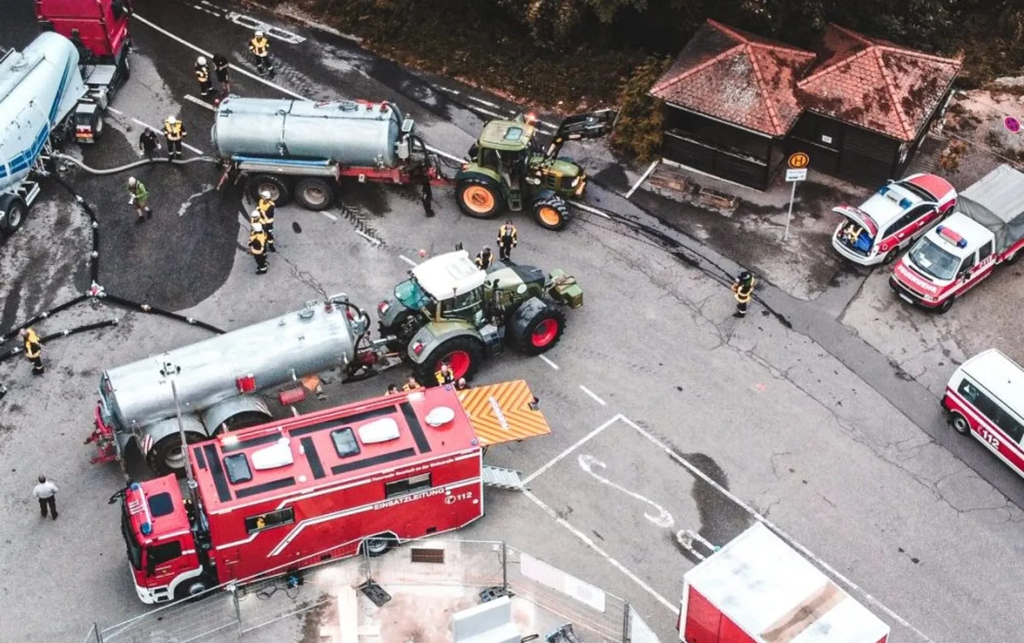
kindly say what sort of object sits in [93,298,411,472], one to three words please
trailer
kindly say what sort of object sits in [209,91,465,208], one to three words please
trailer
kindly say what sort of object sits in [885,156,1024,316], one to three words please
truck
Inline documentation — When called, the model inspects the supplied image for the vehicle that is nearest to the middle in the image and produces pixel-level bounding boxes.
[378,236,585,386]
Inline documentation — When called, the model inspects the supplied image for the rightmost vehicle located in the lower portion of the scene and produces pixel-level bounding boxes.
[940,345,1024,478]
